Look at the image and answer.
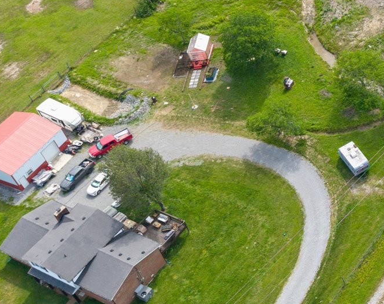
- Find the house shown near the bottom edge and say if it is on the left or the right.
left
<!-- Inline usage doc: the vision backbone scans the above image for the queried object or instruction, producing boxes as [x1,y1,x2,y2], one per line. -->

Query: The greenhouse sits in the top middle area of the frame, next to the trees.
[186,32,216,66]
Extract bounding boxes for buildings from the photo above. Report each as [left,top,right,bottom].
[0,111,70,191]
[0,199,166,304]
[186,32,216,66]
